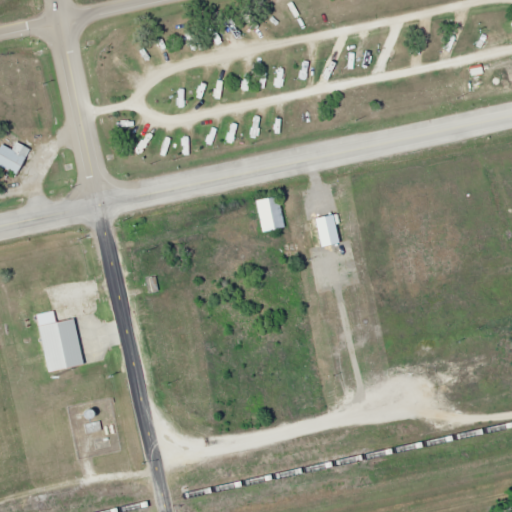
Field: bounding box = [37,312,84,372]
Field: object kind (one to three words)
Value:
barn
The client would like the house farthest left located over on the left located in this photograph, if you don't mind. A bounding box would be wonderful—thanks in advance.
[0,142,30,175]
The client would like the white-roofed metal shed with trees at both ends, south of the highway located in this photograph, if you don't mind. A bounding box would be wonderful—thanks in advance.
[255,196,286,234]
